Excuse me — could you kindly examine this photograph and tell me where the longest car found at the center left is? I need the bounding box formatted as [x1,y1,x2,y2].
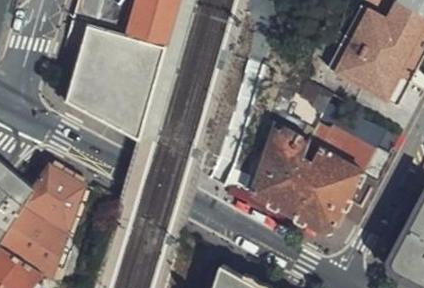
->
[63,128,82,142]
